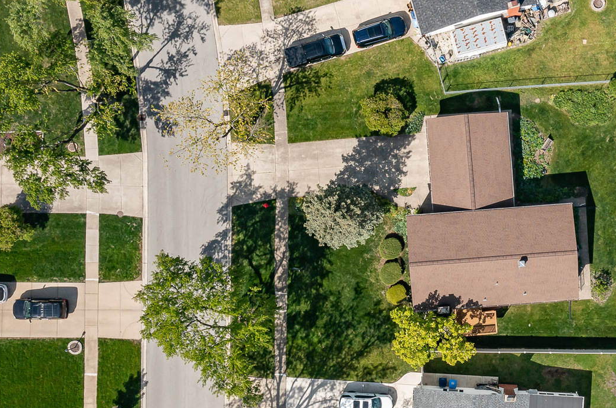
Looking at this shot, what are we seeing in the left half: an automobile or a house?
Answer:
automobile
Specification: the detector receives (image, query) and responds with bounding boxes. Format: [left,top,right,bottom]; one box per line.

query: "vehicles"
[0,283,9,304]
[12,296,69,323]
[338,391,394,408]
[281,32,347,66]
[351,17,408,50]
